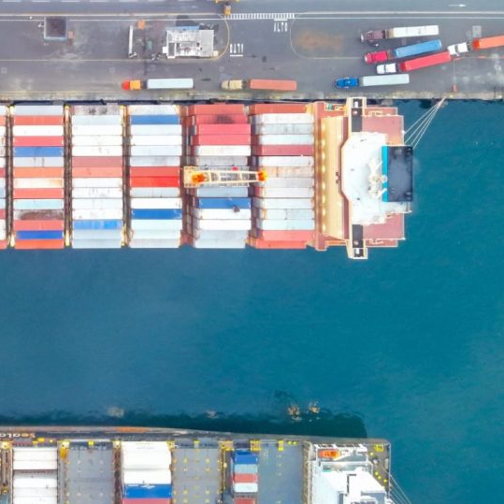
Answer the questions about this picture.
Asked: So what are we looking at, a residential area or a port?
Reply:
port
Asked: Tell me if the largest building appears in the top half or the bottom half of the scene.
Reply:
top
